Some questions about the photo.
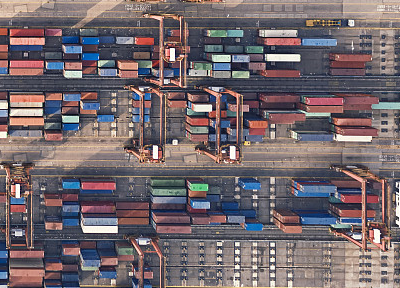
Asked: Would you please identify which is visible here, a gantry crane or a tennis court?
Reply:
gantry crane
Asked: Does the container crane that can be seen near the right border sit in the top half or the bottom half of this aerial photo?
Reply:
bottom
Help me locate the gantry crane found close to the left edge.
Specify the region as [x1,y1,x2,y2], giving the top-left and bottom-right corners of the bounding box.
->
[0,165,38,248]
